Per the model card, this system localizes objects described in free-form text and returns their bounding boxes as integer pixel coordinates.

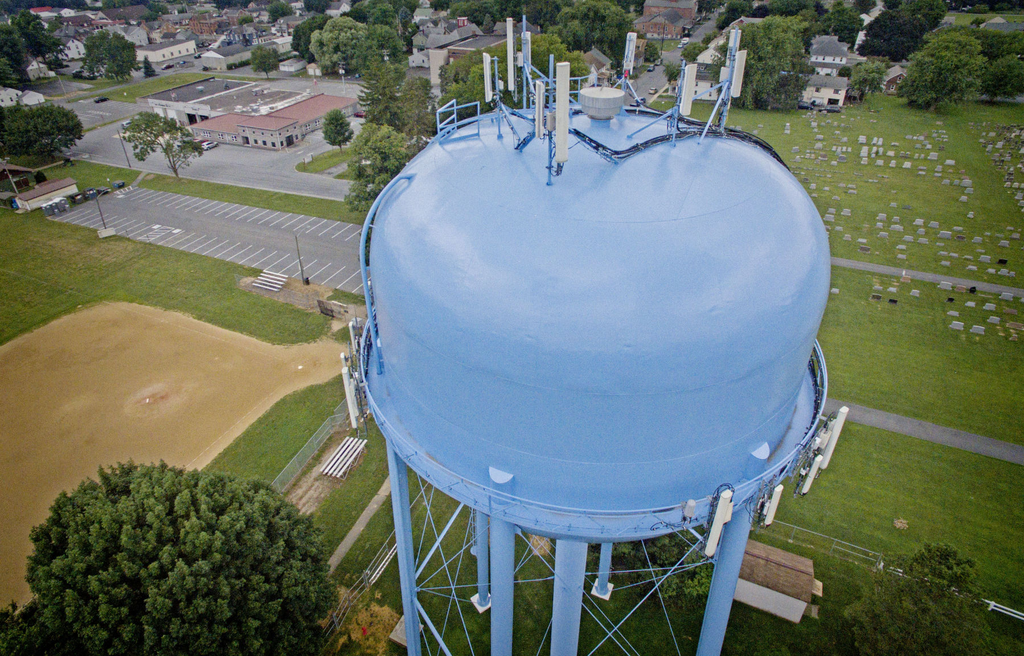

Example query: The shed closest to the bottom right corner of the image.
[733,542,822,622]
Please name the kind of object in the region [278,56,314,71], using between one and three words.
building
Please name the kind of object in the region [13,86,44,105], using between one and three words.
shed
